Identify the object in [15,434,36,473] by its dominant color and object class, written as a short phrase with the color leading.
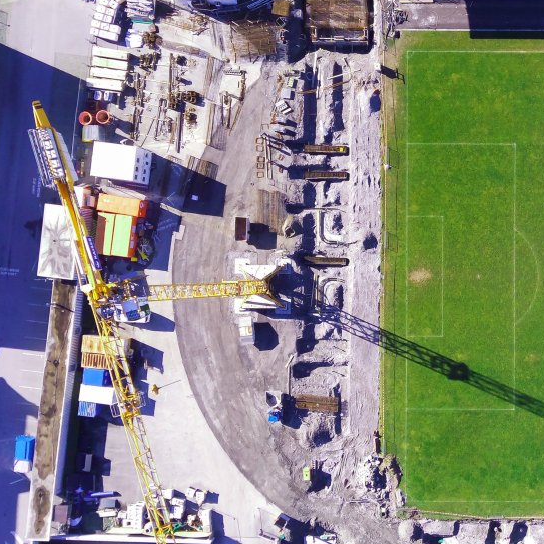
blue truck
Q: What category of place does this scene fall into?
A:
sports ground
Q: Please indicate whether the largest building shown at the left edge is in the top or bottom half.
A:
bottom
